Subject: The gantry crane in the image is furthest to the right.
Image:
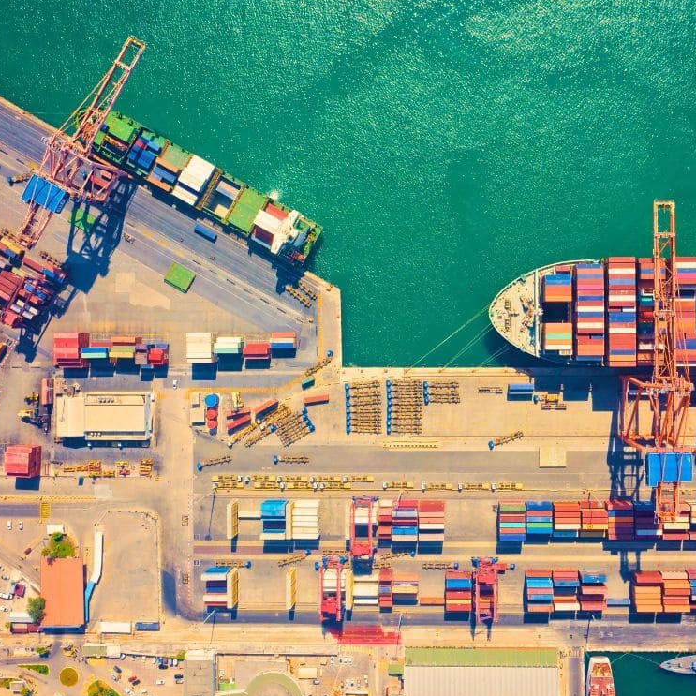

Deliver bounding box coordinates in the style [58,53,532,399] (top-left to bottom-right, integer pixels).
[610,198,696,524]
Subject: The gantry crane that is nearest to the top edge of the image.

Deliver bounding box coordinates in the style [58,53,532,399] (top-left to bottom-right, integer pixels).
[13,36,151,248]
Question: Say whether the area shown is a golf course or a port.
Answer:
port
